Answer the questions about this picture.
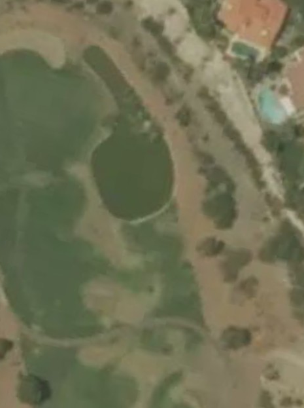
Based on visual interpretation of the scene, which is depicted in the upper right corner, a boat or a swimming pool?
swimming pool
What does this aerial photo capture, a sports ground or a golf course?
golf course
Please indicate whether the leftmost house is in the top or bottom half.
top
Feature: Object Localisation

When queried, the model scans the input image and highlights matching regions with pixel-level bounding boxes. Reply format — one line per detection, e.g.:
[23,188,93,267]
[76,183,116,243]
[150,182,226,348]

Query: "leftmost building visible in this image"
[218,0,289,49]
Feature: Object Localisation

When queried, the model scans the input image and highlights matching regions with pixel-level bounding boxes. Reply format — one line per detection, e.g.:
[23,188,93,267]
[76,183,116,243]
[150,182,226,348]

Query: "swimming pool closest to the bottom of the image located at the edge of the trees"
[255,84,295,125]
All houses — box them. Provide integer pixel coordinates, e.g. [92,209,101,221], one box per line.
[282,46,304,112]
[218,0,289,49]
